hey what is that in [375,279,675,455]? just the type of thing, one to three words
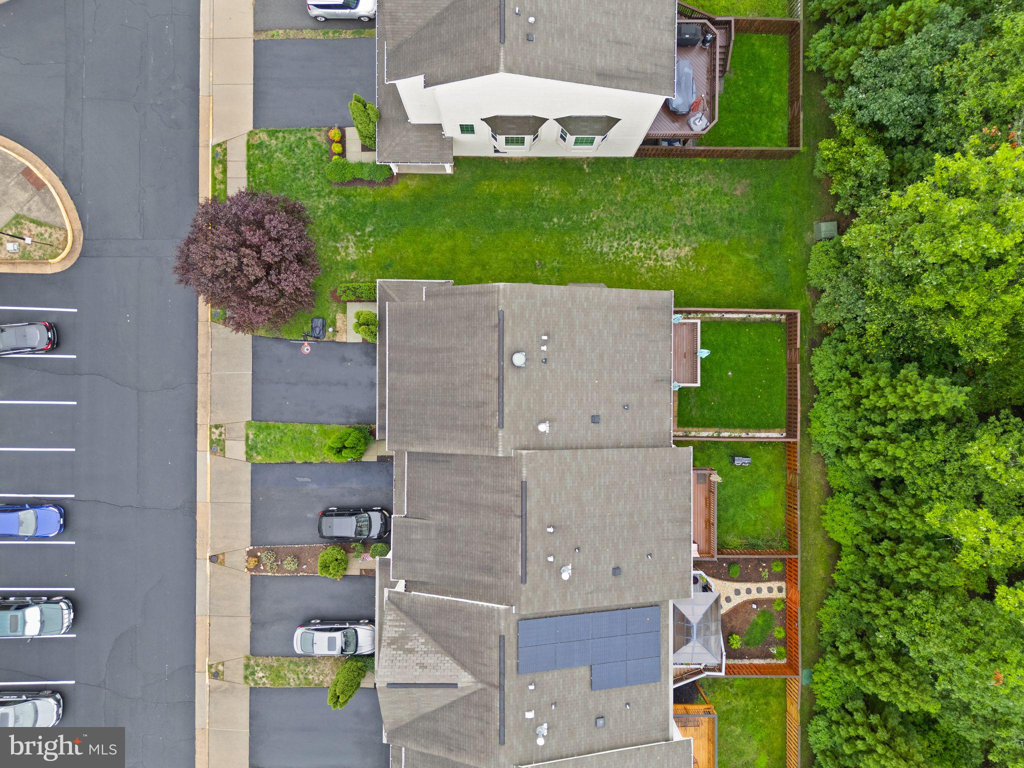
house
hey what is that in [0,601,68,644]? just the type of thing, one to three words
car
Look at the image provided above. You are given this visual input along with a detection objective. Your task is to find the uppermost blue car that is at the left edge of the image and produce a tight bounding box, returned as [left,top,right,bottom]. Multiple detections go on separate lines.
[0,505,60,543]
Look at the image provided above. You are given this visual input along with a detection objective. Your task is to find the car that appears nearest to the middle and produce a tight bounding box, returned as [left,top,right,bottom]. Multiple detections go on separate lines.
[311,507,390,547]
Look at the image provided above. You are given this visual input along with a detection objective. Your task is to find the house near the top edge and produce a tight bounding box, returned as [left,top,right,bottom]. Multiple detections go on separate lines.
[375,0,677,174]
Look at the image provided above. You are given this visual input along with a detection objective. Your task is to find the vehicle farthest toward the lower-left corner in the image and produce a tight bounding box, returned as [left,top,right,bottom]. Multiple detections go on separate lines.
[0,692,61,735]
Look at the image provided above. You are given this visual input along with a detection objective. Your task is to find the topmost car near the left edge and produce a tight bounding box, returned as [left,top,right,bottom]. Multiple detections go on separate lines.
[0,321,57,355]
